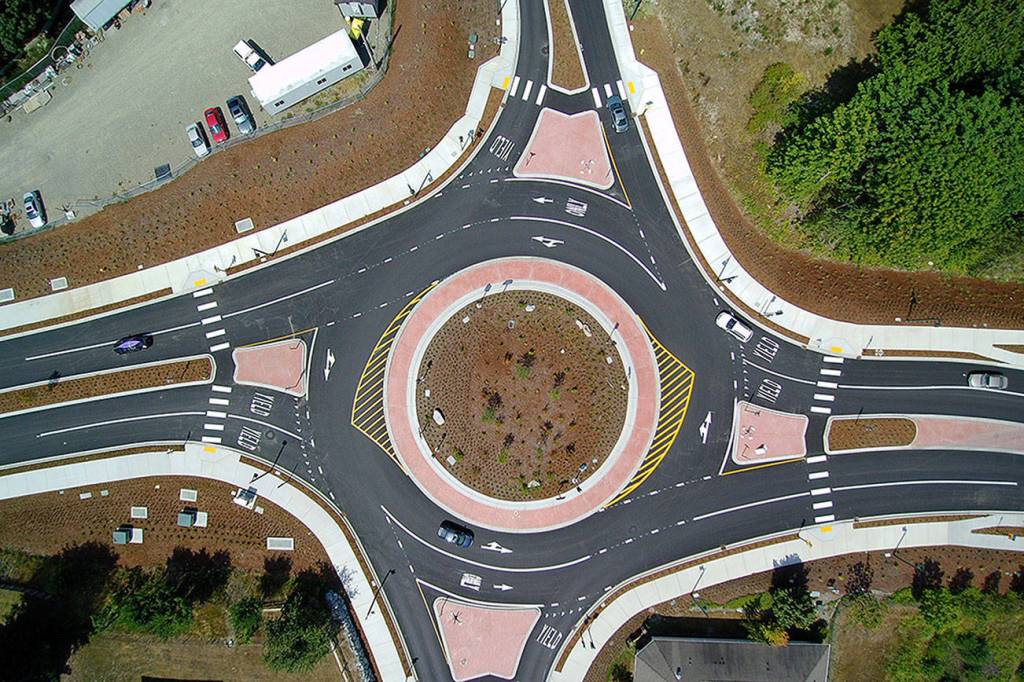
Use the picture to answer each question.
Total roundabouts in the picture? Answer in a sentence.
I count just 1 roundabout.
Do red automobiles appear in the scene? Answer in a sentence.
Yes, the image includes a red automobile.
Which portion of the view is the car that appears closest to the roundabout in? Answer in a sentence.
The car that appears closest to the roundabout is located in the bottom region of the scene.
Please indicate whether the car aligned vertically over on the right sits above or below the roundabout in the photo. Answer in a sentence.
From this view, the car aligned vertically over on the right can be seen above the roundabout.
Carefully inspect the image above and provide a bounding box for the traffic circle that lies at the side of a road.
[383,256,661,533]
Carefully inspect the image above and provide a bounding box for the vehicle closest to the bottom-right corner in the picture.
[967,373,1010,390]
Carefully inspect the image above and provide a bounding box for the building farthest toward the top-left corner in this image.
[71,0,133,40]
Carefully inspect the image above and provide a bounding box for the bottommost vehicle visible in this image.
[437,524,474,548]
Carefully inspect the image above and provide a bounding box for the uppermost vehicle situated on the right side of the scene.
[608,95,629,133]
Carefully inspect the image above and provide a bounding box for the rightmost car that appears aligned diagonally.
[716,313,754,342]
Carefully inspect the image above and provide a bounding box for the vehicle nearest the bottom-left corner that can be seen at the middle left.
[112,334,150,354]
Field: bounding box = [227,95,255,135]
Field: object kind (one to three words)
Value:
car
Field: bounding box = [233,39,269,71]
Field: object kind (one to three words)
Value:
truck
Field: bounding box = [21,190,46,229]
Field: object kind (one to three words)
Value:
car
